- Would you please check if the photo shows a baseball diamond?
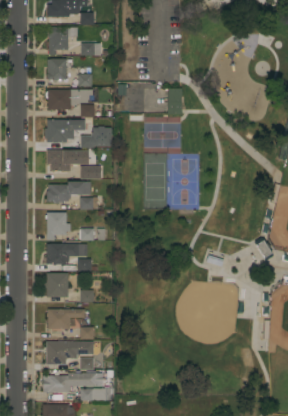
Yes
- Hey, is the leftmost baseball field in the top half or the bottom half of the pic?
bottom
